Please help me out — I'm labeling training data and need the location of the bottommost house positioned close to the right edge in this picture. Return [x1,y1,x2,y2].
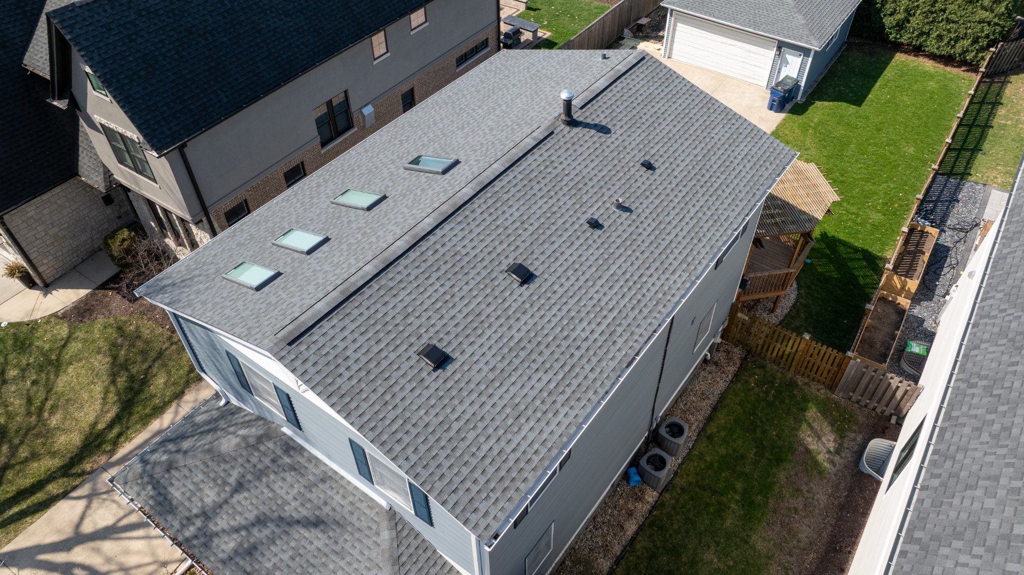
[848,158,1024,575]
